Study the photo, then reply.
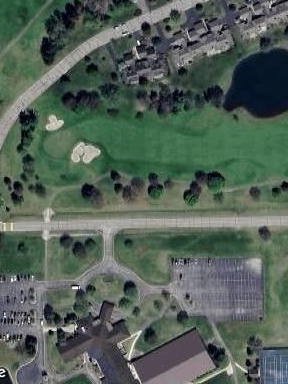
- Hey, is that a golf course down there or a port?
golf course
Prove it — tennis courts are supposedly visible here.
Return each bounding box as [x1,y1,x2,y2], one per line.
[279,349,288,384]
[260,349,279,384]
